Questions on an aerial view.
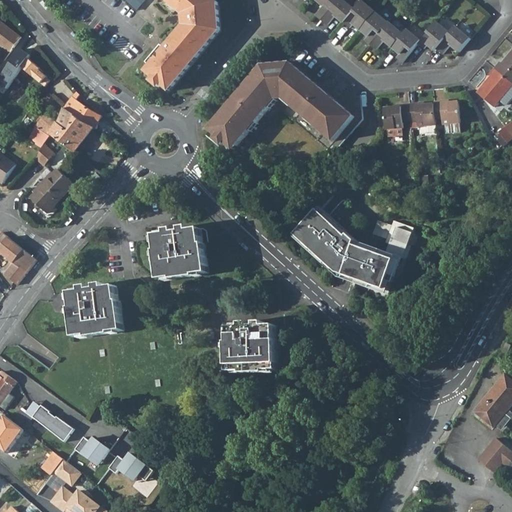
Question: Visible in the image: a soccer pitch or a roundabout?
roundabout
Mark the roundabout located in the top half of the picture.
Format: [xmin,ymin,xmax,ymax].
[133,110,196,176]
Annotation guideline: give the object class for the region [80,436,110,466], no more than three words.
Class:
house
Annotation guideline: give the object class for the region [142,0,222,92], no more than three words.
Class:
building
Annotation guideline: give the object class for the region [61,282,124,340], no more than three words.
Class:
building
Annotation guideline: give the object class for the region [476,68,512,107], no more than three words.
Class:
house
